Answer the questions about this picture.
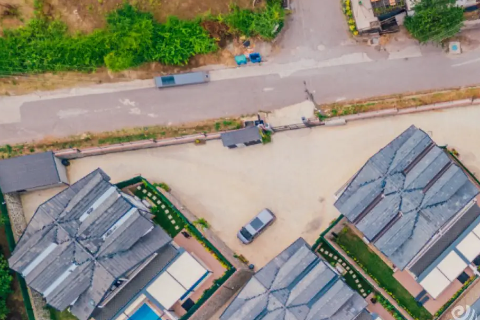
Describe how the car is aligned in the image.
diagonally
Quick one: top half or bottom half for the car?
bottom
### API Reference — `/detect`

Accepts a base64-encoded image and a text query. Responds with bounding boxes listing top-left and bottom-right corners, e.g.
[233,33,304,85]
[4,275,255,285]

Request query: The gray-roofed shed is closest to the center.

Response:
[222,125,267,150]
